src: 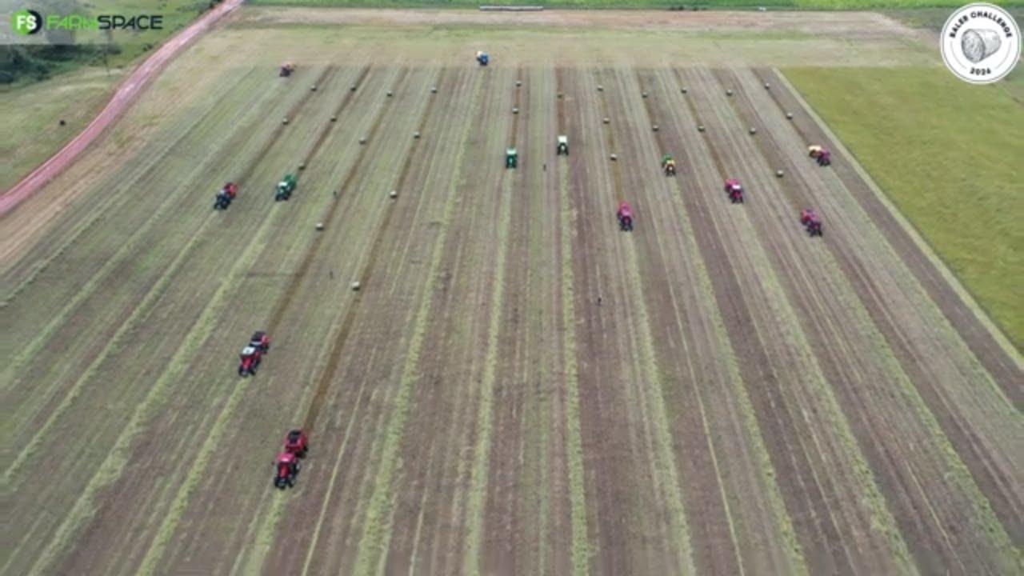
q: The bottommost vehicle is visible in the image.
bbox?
[273,448,302,487]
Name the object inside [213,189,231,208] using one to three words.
work vehicle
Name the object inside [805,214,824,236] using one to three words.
work vehicle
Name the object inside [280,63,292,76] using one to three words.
vehicle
